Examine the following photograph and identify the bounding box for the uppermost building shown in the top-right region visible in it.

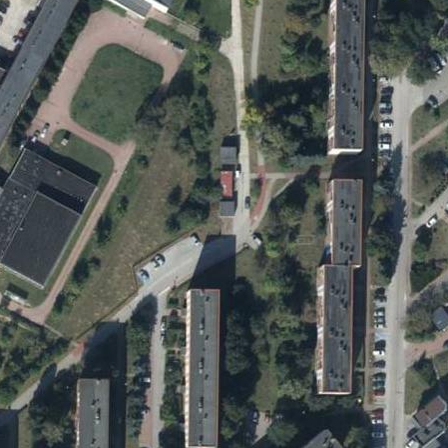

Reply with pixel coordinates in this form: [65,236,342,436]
[328,0,366,155]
